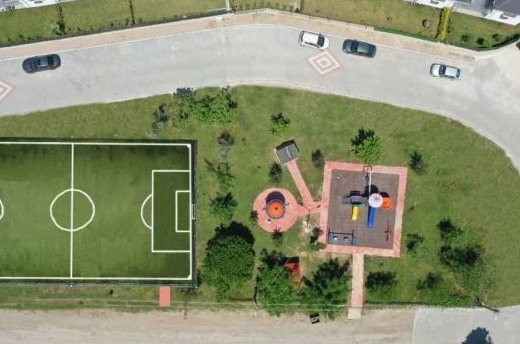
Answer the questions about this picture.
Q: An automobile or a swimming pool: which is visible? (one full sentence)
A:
This aerial view contains an automobile.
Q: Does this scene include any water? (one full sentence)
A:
No, the picture contains no water.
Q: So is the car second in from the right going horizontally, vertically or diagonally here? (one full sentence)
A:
What the image shows is the car second in from the right lying horizontally.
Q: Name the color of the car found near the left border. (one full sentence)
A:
The car found near the left border looks black in the image.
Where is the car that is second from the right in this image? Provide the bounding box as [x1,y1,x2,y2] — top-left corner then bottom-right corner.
[342,38,378,59]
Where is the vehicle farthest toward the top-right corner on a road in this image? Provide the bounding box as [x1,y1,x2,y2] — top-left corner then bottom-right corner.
[429,62,461,81]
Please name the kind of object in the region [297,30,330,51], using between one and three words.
car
